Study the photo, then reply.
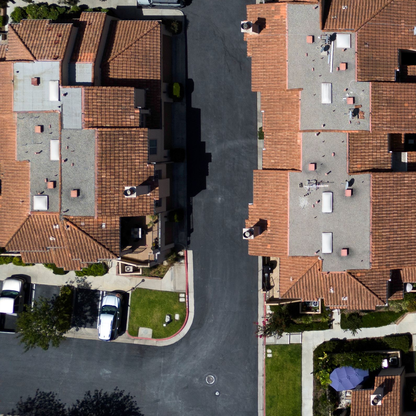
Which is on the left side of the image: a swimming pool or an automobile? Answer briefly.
automobile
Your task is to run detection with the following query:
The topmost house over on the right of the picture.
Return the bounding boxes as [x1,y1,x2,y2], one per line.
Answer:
[241,0,416,314]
